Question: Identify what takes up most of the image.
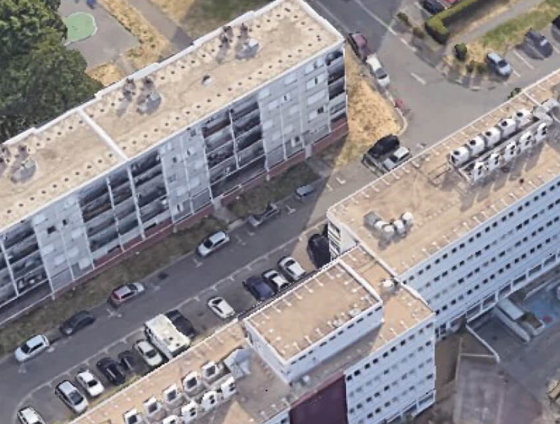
buildings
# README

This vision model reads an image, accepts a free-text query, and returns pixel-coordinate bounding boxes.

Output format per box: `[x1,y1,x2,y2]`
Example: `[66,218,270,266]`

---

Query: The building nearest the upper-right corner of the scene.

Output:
[328,68,560,346]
